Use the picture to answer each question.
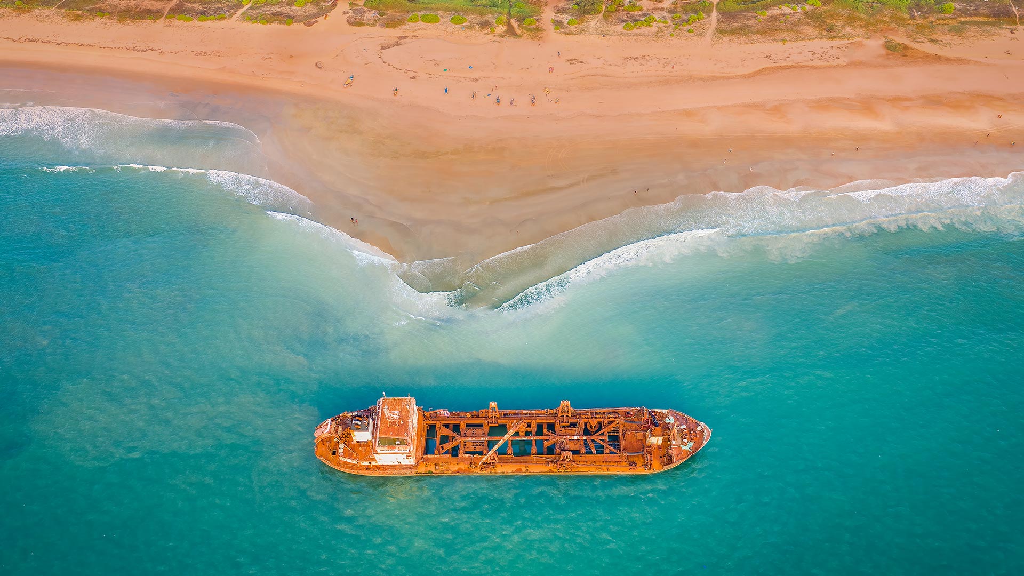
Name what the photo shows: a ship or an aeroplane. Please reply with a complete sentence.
There is a ship in the scene.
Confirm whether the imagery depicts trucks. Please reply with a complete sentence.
No, no truck is visible in the scene.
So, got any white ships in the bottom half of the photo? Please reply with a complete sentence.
No, I can find no white ship in the bottom half of the photo.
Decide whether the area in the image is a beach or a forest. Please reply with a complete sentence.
This looks like a beach.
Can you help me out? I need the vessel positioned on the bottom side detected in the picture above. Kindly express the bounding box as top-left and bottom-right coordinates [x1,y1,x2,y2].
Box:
[313,392,714,475]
